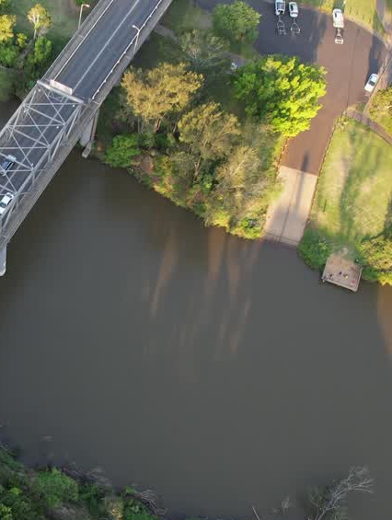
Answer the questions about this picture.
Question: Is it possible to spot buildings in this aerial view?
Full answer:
No, no building can be seen from above.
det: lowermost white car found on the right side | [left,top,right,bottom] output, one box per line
[362,74,378,93]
